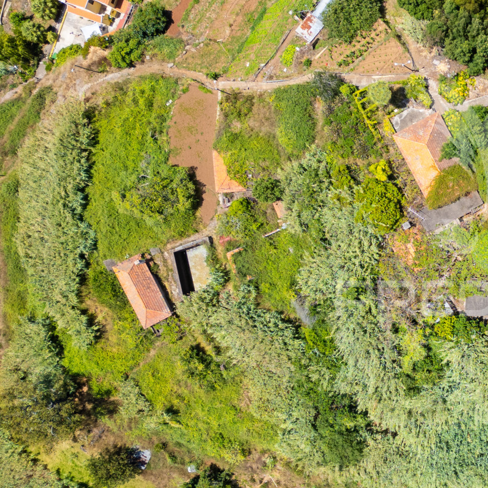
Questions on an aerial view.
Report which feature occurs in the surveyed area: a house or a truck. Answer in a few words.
house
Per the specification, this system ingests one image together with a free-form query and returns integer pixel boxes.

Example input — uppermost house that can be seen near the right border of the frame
[390,107,483,233]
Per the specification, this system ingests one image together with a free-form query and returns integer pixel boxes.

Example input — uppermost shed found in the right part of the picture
[296,0,339,44]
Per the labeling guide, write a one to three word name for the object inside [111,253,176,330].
shed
